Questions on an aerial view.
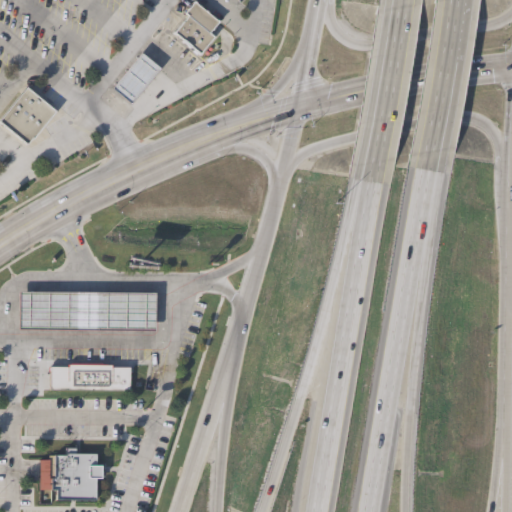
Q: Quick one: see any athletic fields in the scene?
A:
No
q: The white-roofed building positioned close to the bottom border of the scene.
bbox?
[41,448,104,504]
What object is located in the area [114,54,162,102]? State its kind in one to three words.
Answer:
building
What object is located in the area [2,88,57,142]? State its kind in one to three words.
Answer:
building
